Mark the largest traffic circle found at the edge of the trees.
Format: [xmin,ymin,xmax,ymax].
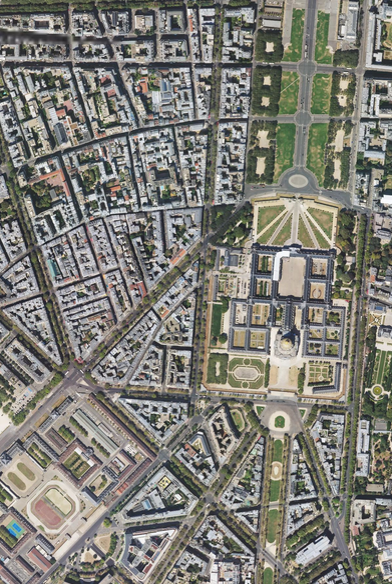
[279,167,321,191]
